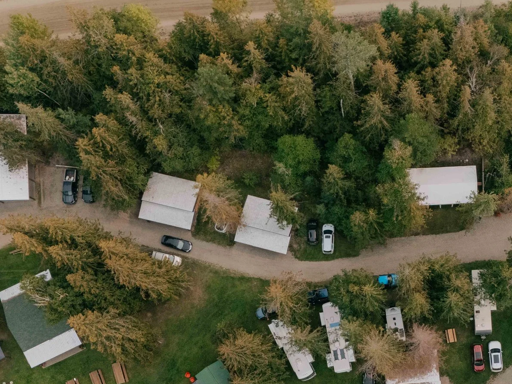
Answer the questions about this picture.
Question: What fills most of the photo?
trees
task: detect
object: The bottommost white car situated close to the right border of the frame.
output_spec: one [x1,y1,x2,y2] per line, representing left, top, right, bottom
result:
[489,341,504,372]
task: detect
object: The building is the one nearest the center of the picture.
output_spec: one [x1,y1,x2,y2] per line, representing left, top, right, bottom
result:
[235,195,297,256]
